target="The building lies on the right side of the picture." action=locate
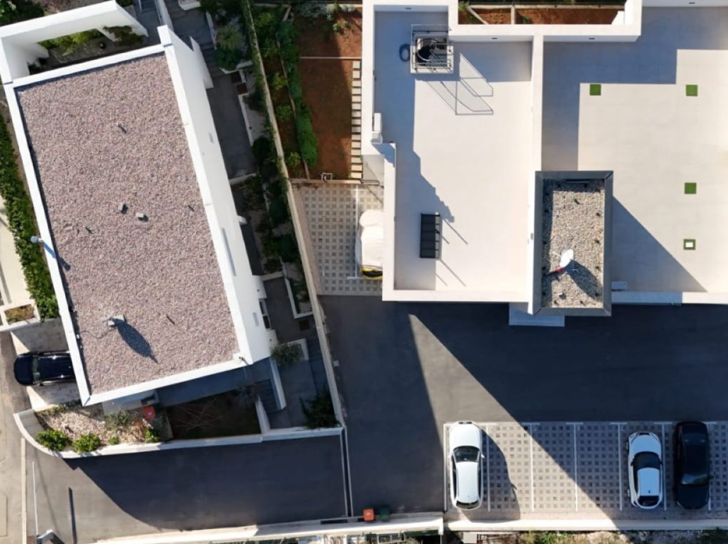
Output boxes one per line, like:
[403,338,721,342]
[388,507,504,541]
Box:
[362,0,728,327]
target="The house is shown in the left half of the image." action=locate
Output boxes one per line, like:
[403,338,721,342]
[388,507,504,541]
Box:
[0,1,268,409]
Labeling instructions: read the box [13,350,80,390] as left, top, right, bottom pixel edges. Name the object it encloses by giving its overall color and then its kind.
black car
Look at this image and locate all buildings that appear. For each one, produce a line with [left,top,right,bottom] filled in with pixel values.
[362,0,728,327]
[0,1,268,409]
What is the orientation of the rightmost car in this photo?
vertically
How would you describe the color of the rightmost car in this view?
black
